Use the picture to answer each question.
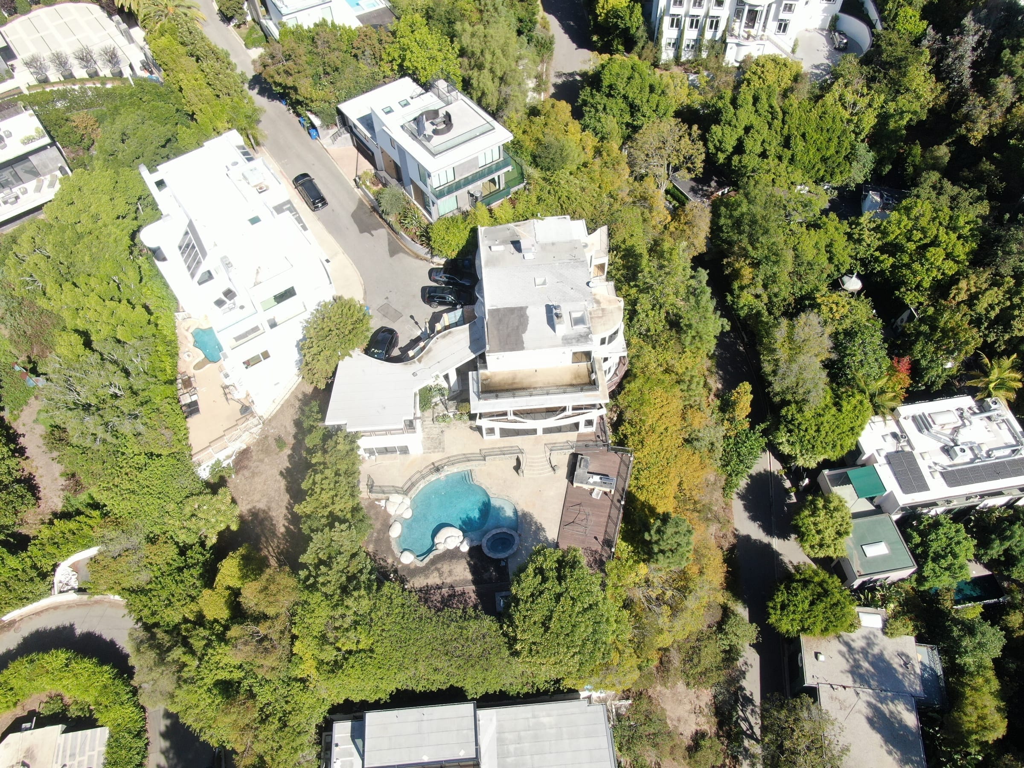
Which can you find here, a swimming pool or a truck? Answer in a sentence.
Visible in the photo is a swimming pool.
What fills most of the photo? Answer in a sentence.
The largest share of the image is taken up by trees.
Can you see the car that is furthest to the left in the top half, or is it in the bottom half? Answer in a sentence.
It is in the top half that the car that is furthest to the left appears.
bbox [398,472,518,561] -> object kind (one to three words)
swimming pool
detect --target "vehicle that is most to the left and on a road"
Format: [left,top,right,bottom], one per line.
[294,174,326,209]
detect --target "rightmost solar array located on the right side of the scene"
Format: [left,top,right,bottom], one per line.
[942,460,1024,487]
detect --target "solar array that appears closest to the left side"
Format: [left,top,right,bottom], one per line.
[887,450,930,494]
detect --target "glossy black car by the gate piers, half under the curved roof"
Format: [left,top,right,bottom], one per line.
[362,320,402,361]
